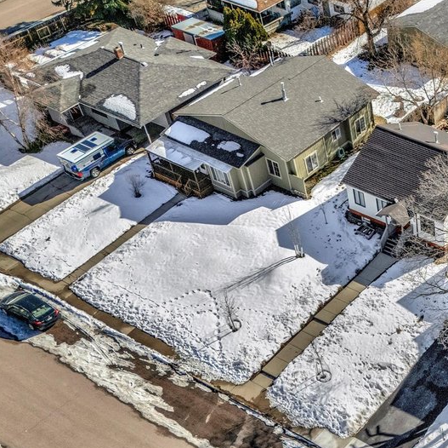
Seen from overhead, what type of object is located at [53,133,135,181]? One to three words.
truck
